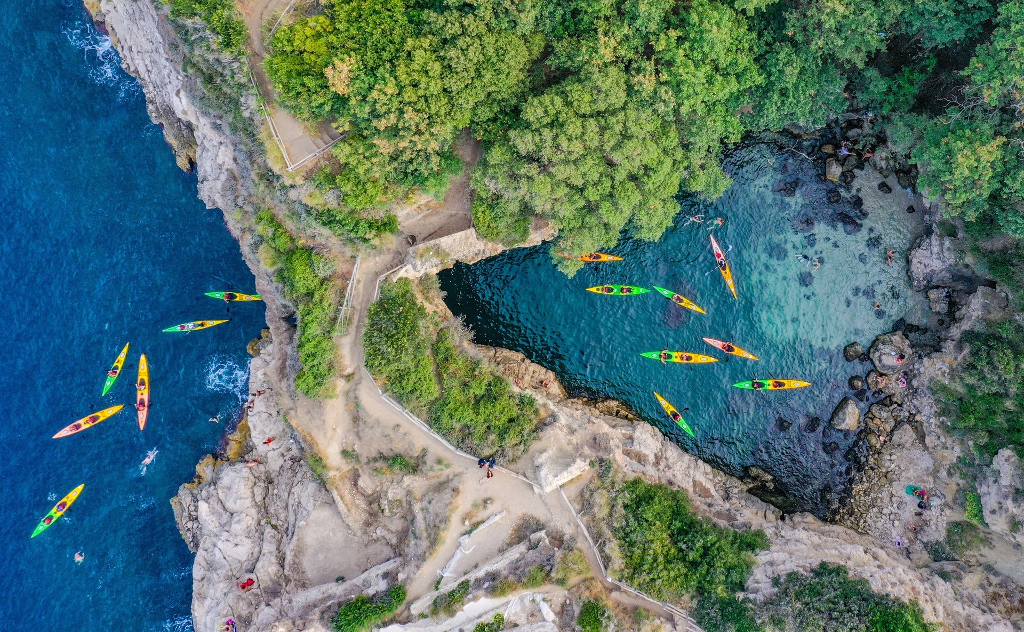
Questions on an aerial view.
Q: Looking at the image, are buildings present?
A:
No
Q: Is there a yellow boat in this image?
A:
Yes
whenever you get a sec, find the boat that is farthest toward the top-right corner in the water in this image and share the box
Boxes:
[711,236,738,299]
